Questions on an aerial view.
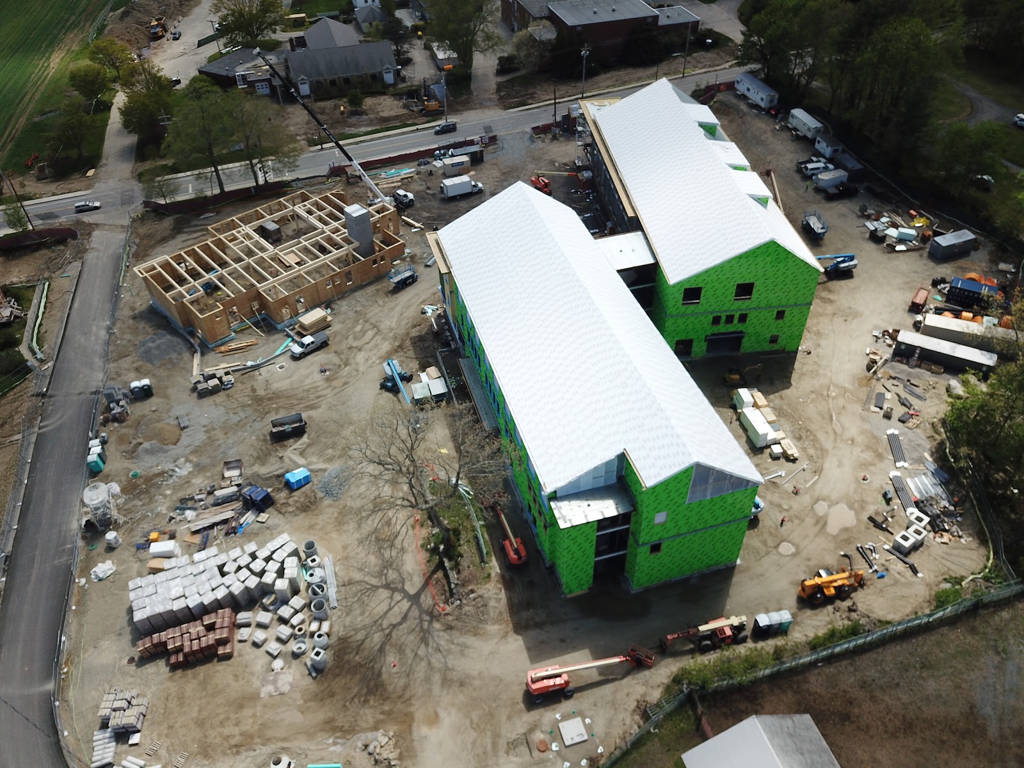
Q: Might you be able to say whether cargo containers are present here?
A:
Yes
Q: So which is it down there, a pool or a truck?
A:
truck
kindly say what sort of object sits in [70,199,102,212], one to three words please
vehicle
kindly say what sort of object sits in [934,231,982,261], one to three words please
shipping container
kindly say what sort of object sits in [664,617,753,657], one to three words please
work vehicle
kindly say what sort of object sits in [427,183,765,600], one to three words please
building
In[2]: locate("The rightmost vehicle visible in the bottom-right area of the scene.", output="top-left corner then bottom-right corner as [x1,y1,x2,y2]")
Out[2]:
[807,562,875,602]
